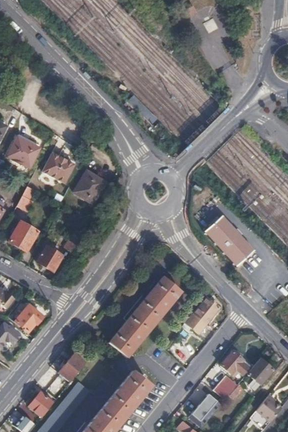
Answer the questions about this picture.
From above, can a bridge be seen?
Yes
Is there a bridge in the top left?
No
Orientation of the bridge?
on a diagonal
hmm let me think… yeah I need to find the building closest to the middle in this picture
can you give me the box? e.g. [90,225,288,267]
[73,170,106,204]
